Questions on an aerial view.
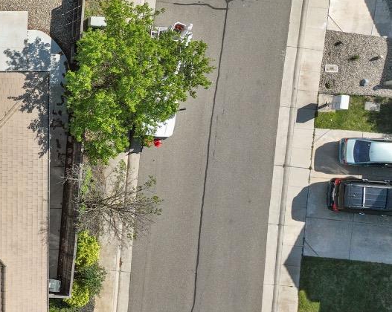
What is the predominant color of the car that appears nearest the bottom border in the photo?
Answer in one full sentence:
The car that appears nearest the bottom border is black.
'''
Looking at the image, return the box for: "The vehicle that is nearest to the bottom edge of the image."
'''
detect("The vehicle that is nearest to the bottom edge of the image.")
[327,179,392,216]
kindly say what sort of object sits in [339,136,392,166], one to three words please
car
